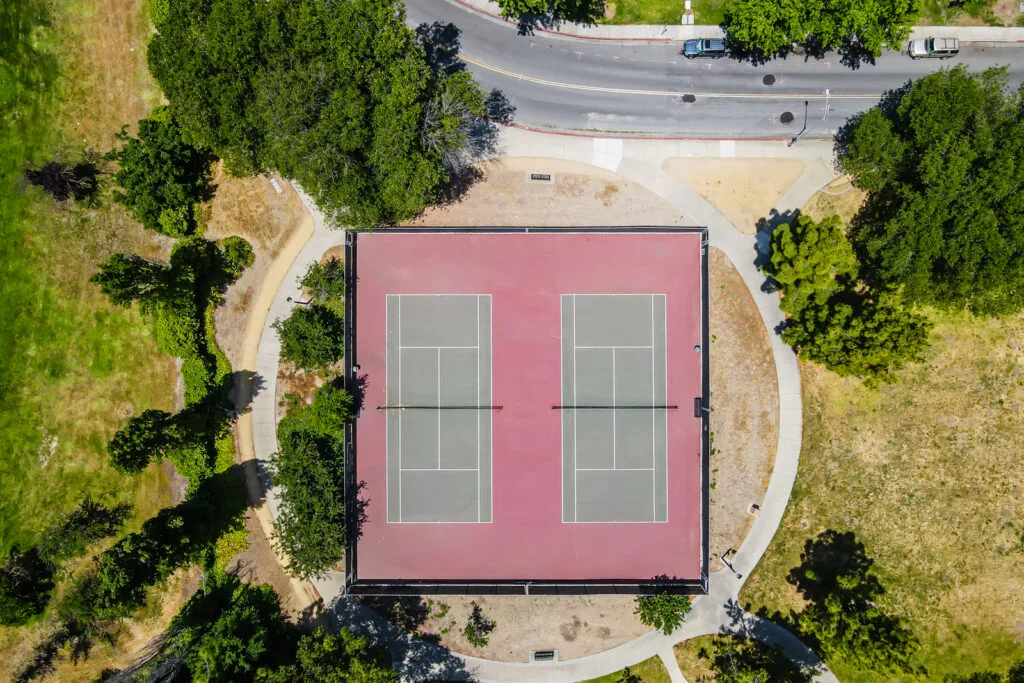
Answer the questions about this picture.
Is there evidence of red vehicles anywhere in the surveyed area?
No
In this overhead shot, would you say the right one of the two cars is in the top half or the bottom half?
top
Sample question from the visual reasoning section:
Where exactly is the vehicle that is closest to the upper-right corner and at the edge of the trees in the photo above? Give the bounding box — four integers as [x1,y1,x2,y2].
[907,36,958,59]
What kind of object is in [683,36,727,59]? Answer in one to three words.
car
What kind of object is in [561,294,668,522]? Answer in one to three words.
tennis court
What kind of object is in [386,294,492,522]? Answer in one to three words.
tennis court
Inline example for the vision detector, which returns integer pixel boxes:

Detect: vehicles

[907,36,958,59]
[683,36,727,59]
